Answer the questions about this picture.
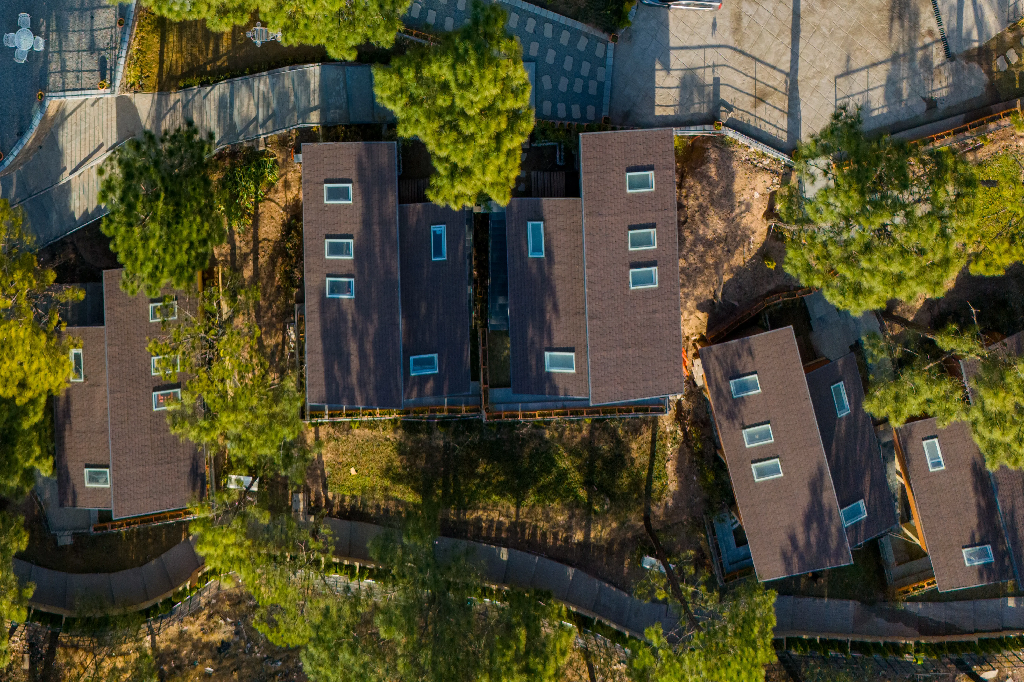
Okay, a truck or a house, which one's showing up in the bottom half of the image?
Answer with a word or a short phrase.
house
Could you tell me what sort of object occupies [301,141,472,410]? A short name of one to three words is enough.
house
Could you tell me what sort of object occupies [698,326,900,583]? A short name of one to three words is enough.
house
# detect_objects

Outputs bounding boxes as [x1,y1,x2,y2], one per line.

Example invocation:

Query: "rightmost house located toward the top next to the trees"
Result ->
[507,127,685,406]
